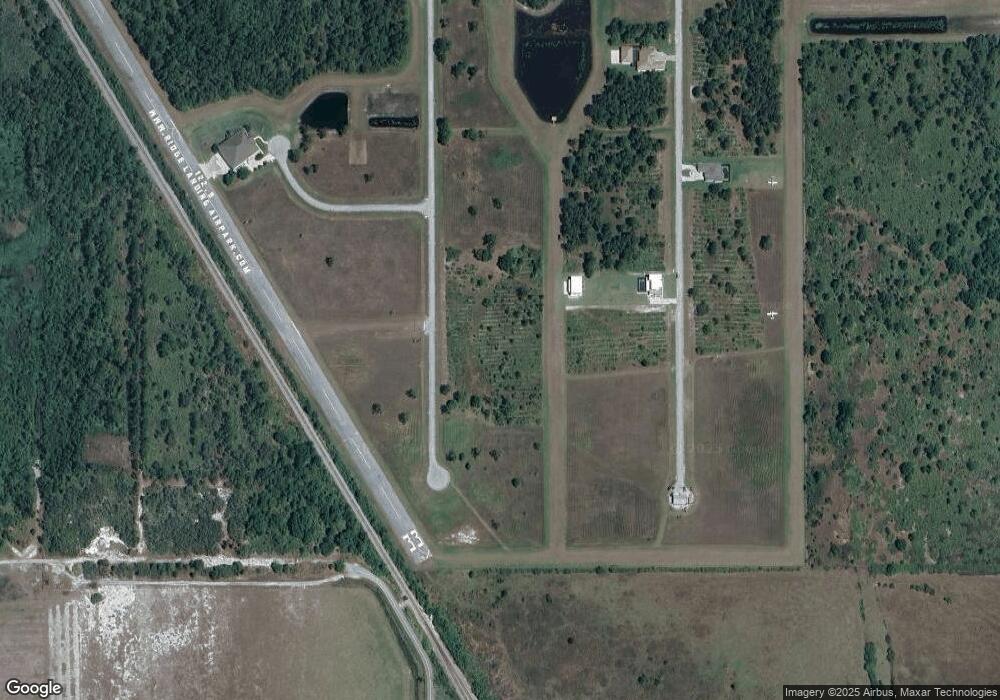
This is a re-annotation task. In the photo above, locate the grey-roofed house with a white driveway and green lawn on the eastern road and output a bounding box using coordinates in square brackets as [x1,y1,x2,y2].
[683,164,729,183]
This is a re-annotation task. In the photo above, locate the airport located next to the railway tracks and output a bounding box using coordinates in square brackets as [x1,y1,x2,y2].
[79,0,810,565]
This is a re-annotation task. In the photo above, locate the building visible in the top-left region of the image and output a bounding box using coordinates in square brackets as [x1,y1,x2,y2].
[199,131,274,180]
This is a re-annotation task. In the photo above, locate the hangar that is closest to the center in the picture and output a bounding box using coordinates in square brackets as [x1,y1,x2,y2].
[563,276,582,298]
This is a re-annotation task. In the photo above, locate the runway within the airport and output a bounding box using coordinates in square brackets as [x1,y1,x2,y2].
[79,0,434,565]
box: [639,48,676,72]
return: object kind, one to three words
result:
house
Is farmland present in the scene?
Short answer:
Yes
